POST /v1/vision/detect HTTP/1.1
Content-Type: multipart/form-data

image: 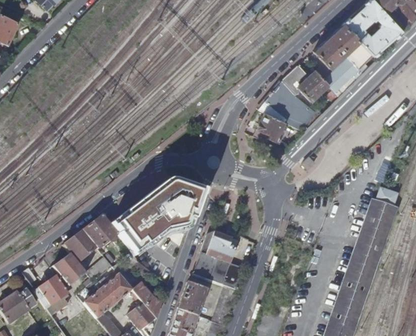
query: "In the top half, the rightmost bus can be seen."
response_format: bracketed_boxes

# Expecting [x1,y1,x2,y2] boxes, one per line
[384,102,409,127]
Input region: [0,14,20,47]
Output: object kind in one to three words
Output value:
house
